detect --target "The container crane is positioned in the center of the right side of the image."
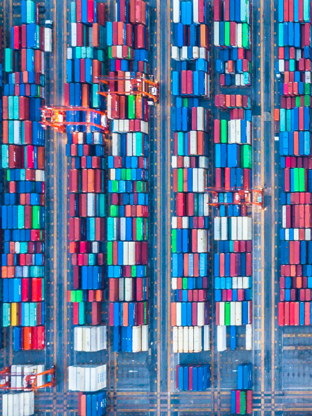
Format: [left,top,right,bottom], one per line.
[204,185,262,210]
